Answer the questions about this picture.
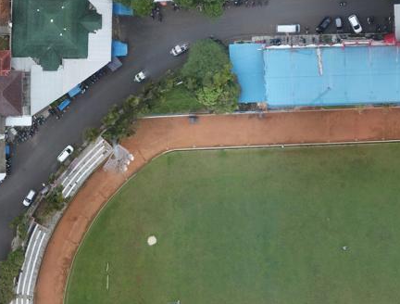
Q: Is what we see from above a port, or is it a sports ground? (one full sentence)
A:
It's a sports ground.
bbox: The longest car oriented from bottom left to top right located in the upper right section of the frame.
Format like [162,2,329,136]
[315,12,333,34]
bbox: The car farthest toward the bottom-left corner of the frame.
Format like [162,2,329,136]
[20,186,36,207]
